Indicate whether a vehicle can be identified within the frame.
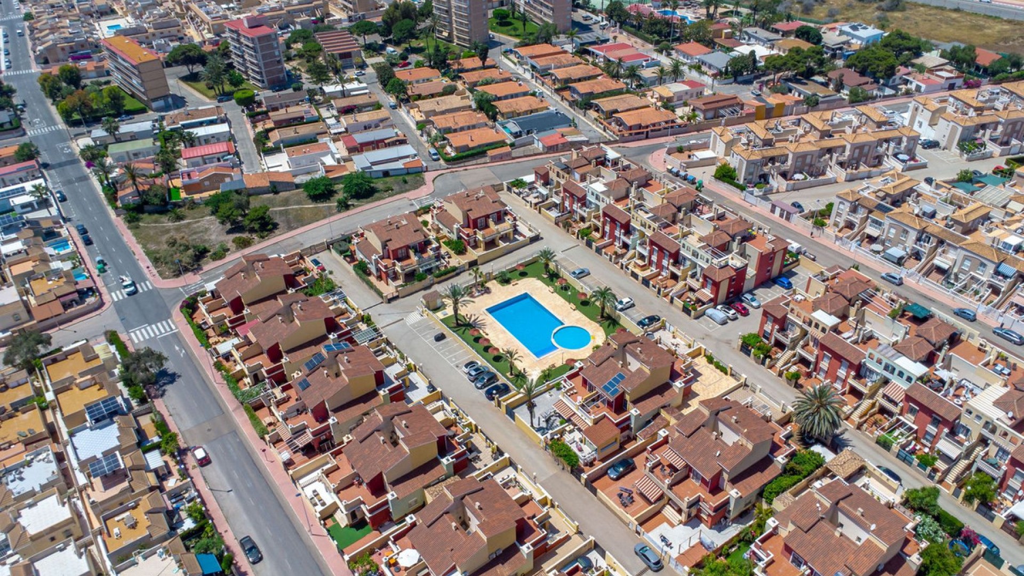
Yes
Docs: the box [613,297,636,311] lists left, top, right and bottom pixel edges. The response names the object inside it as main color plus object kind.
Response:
white car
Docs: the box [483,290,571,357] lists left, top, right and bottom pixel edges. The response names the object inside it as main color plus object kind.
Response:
blue swimming pool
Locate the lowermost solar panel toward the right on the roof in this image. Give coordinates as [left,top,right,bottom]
[602,372,628,395]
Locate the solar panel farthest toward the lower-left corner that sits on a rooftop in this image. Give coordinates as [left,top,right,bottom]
[90,453,121,477]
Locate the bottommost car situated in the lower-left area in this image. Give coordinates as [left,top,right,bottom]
[238,535,263,565]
